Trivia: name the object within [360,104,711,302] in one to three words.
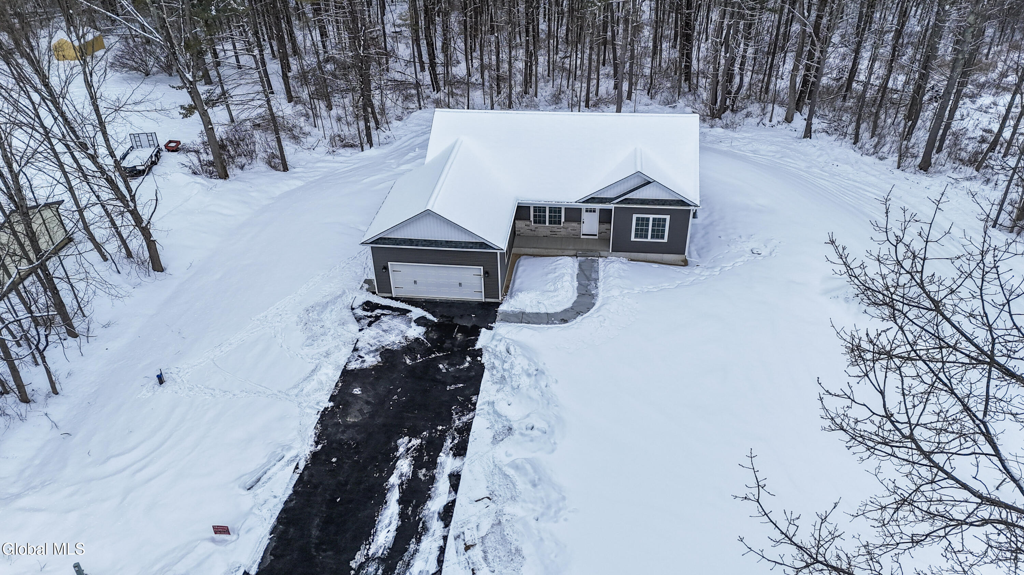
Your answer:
house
